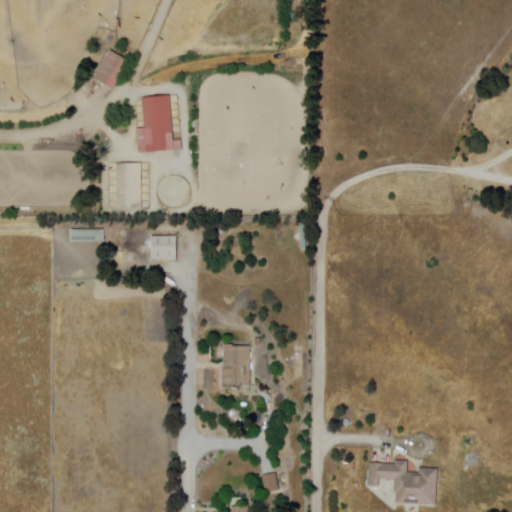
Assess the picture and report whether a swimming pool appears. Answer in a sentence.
No, the scene contains no swimming pool.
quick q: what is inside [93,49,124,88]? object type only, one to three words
barn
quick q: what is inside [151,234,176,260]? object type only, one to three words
building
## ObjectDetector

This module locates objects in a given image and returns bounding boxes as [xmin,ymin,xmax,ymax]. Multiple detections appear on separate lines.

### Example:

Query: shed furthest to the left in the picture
[69,228,104,242]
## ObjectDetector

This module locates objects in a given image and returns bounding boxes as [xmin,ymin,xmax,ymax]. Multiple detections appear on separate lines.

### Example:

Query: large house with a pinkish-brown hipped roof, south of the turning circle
[369,460,438,504]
